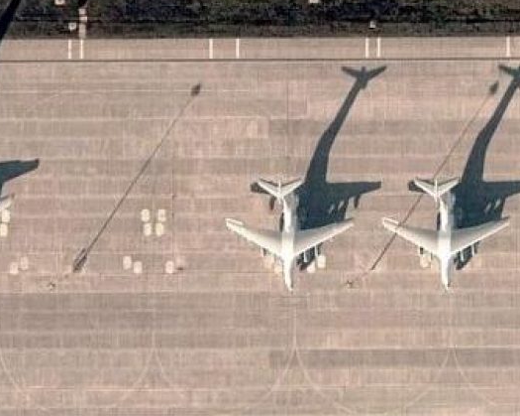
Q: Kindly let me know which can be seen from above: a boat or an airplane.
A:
airplane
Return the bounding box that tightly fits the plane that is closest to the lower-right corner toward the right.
[382,177,510,289]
